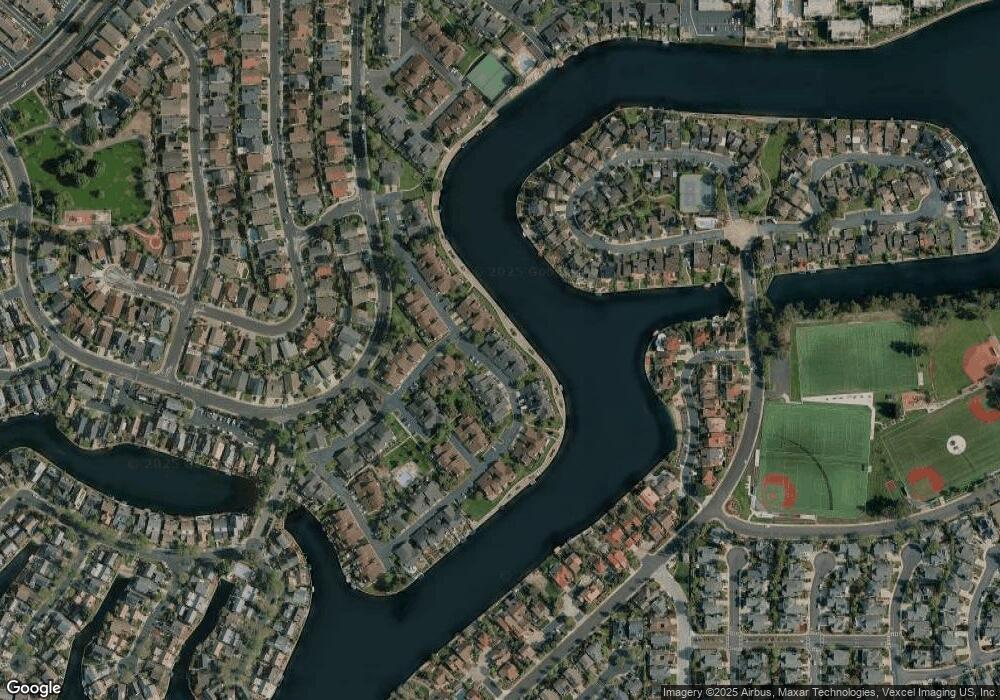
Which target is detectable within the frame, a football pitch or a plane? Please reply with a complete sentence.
The one in the frame is a football pitch.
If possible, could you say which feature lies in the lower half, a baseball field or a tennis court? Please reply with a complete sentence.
You can see a baseball field in the lower half.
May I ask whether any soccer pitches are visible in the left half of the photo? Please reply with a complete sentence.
No, I see no soccer pitch in the left half of the photo.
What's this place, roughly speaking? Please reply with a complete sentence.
The picture captures a residential area.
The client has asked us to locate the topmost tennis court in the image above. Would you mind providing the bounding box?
[466,52,516,101]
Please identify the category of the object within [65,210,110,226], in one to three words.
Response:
basketball court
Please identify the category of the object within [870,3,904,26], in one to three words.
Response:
building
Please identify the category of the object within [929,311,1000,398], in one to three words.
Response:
baseball field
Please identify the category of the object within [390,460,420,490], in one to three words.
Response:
swimming pool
